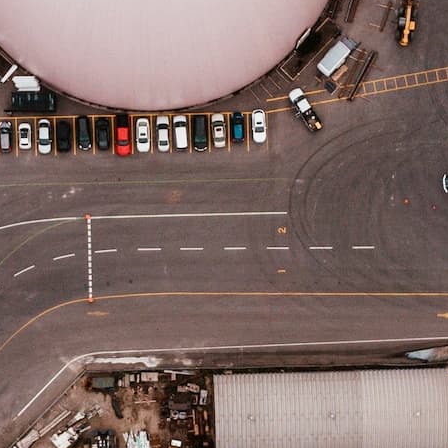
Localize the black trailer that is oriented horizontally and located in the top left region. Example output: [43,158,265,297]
[3,89,54,111]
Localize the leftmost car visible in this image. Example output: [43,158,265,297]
[0,121,14,153]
